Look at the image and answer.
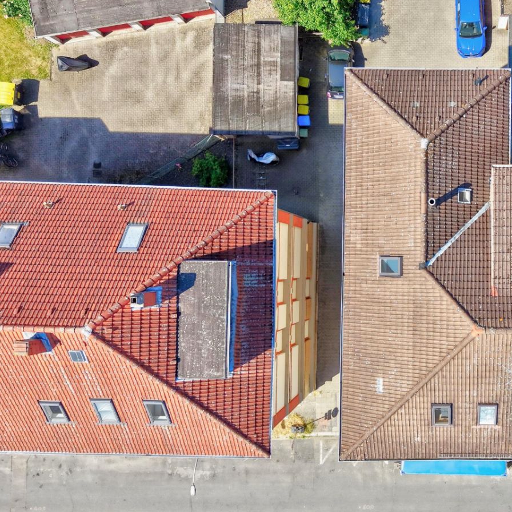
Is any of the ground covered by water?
No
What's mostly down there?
buildings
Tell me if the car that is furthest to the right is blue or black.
blue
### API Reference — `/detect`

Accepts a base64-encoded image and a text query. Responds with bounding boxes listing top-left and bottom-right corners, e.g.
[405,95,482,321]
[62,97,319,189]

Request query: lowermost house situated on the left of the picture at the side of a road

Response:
[0,178,318,461]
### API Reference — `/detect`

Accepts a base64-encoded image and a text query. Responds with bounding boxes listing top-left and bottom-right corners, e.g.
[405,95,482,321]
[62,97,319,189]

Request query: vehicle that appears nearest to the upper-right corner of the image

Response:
[453,0,490,57]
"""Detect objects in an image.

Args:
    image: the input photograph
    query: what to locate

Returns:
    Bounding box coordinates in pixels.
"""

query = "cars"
[321,31,357,97]
[453,0,490,57]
